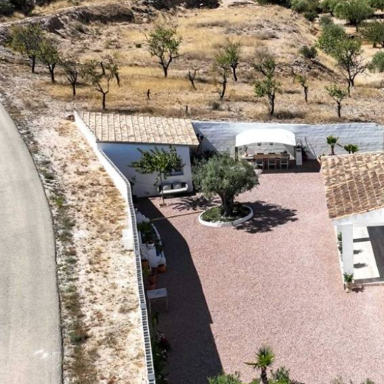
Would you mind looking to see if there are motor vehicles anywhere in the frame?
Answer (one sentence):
No, the photo shows no motor vehicle.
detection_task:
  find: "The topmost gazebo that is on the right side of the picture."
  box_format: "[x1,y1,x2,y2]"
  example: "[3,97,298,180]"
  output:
[235,131,300,171]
